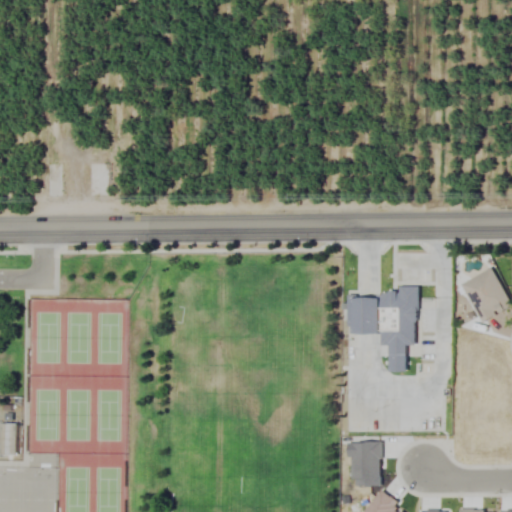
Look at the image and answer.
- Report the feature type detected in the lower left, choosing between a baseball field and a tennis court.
tennis court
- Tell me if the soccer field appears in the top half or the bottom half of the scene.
bottom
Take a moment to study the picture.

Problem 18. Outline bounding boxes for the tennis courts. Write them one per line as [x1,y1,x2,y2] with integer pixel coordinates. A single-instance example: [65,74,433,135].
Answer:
[34,390,60,441]
[94,468,122,512]
[67,312,92,364]
[98,312,124,364]
[66,390,93,442]
[95,390,122,442]
[36,312,62,364]
[66,467,90,512]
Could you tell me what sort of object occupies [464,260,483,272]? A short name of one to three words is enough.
swimming pool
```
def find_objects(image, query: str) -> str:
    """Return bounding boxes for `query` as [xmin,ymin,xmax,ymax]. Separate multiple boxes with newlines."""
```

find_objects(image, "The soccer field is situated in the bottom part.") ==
[130,253,342,512]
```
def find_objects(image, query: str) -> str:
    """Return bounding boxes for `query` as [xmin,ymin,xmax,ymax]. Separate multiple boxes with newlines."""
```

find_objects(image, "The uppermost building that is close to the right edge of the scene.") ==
[464,268,512,318]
